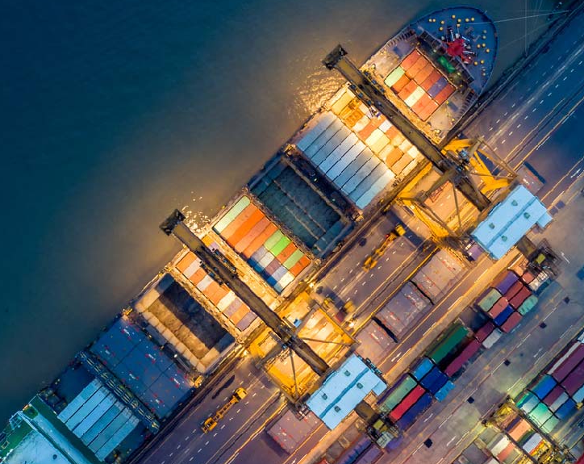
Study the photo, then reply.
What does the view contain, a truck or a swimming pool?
truck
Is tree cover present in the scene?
No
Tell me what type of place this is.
port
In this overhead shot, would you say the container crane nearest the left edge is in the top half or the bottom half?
bottom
